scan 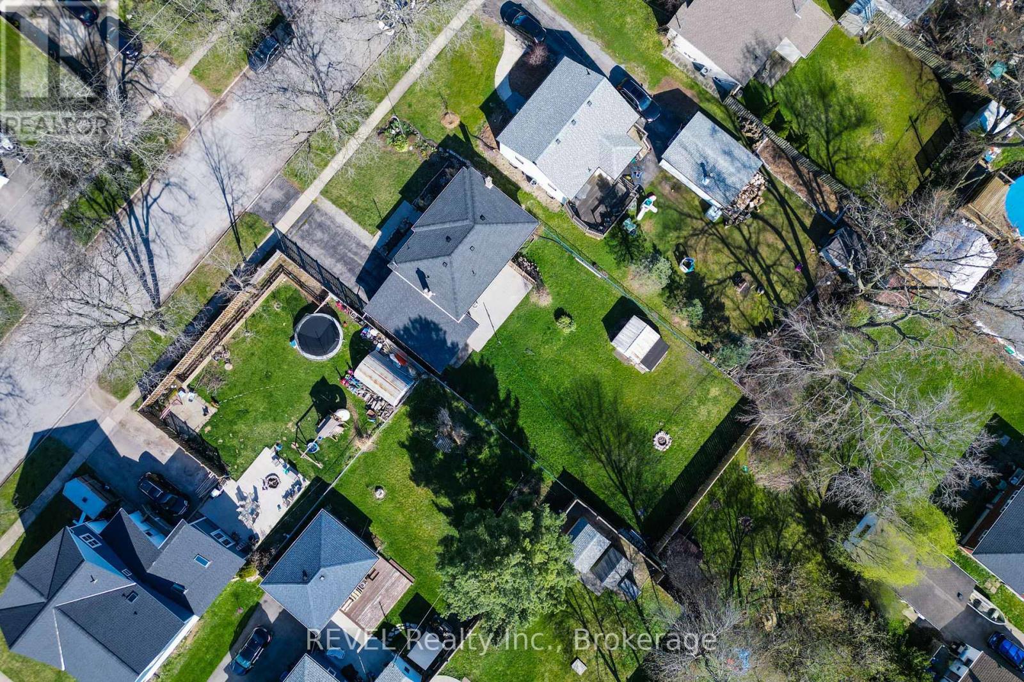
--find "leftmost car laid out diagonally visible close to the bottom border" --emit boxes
[223,622,274,682]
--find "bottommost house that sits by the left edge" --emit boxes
[0,504,254,682]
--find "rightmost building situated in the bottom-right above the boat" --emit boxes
[951,485,1024,602]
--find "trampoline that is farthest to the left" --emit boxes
[282,309,342,362]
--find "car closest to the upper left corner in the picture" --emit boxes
[55,0,97,28]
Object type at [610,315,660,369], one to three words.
shed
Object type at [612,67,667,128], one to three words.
car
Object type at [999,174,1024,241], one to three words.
swimming pool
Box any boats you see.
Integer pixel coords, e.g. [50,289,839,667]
[967,591,1020,636]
